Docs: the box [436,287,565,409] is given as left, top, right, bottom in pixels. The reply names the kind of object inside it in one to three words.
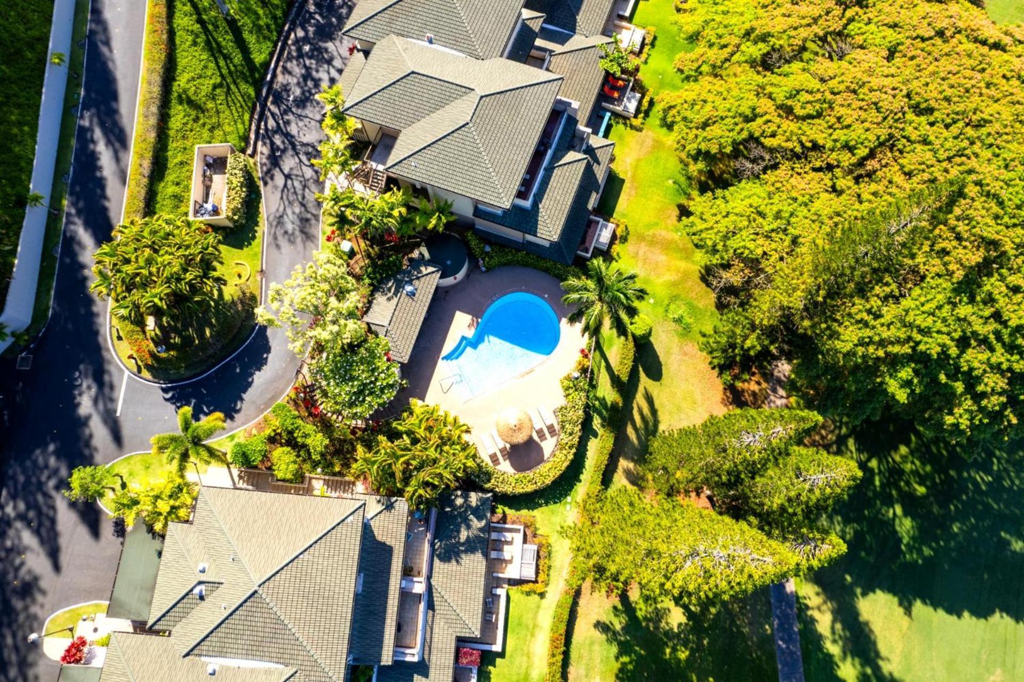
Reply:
swimming pool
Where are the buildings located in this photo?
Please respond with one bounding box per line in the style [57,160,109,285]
[325,31,616,269]
[99,484,494,682]
[362,256,443,365]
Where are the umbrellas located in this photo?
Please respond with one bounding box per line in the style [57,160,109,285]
[494,405,534,445]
